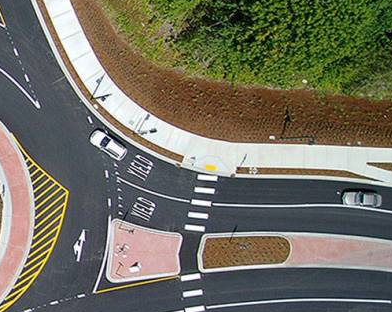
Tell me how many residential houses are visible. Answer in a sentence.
There are no residential houses in this view.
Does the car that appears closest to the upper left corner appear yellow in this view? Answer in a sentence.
No, the car that appears closest to the upper left corner is white.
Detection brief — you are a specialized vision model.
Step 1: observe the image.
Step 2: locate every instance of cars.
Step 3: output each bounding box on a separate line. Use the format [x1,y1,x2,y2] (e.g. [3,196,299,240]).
[341,191,384,208]
[90,131,128,160]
